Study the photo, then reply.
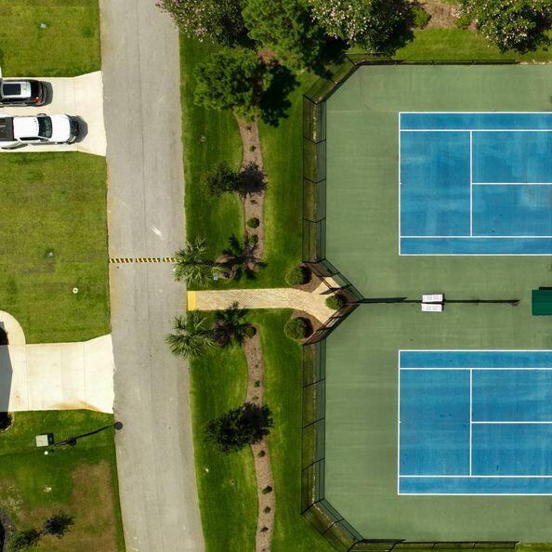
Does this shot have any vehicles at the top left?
Yes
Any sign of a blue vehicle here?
No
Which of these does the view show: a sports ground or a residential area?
sports ground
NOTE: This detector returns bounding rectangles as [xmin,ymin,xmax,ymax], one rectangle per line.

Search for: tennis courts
[316,63,552,300]
[314,300,552,542]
